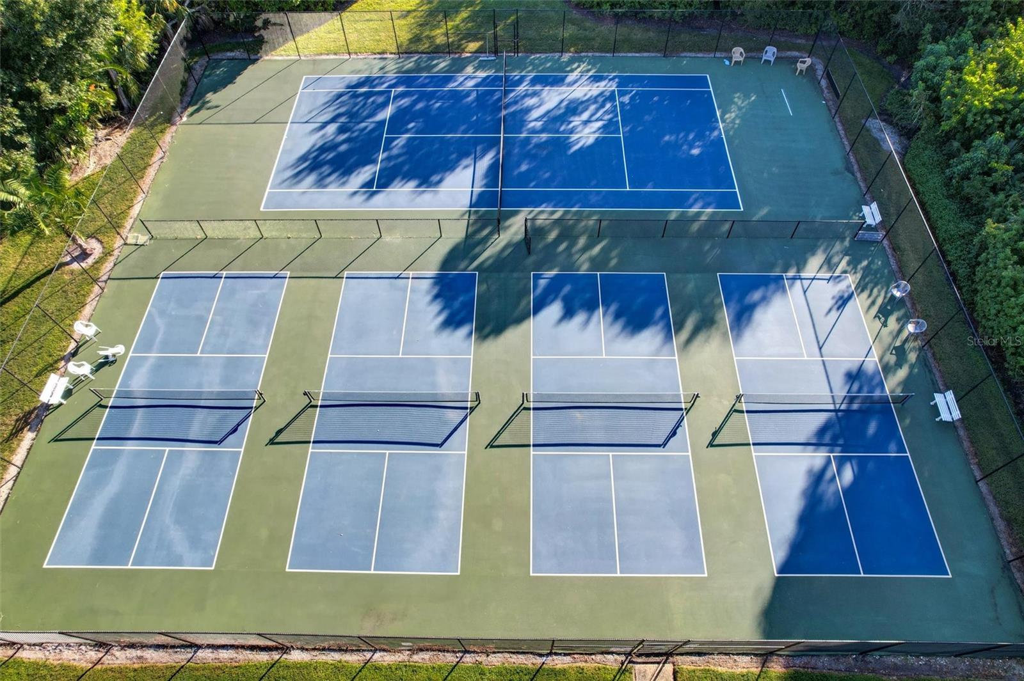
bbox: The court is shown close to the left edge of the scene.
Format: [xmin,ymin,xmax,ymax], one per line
[44,271,290,570]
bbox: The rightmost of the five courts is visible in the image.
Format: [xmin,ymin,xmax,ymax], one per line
[716,273,952,578]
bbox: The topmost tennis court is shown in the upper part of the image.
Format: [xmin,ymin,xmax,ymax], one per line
[263,73,741,211]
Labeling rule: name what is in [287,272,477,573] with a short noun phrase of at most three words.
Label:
sports court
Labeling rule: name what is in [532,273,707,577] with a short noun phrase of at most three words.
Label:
sports court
